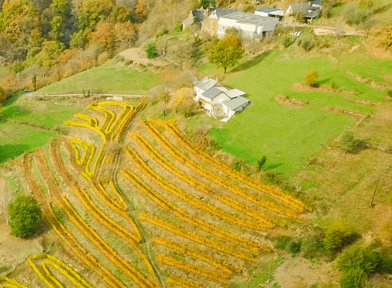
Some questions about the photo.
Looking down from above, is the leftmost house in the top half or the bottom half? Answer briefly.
top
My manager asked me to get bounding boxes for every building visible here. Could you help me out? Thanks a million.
[196,77,251,123]
[216,12,279,40]
[178,6,209,32]
[279,0,319,27]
